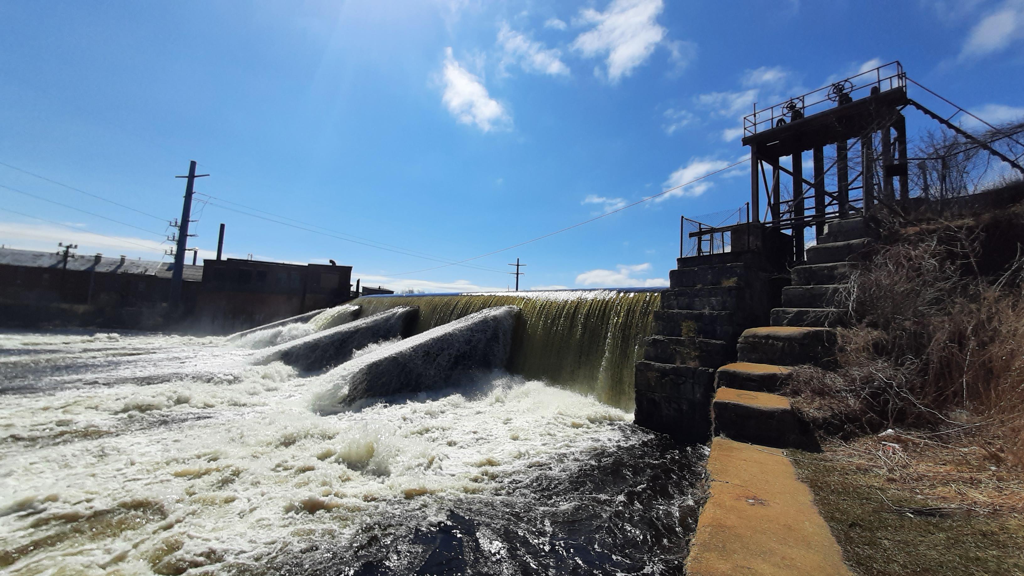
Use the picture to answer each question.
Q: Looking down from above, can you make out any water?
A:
Yes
